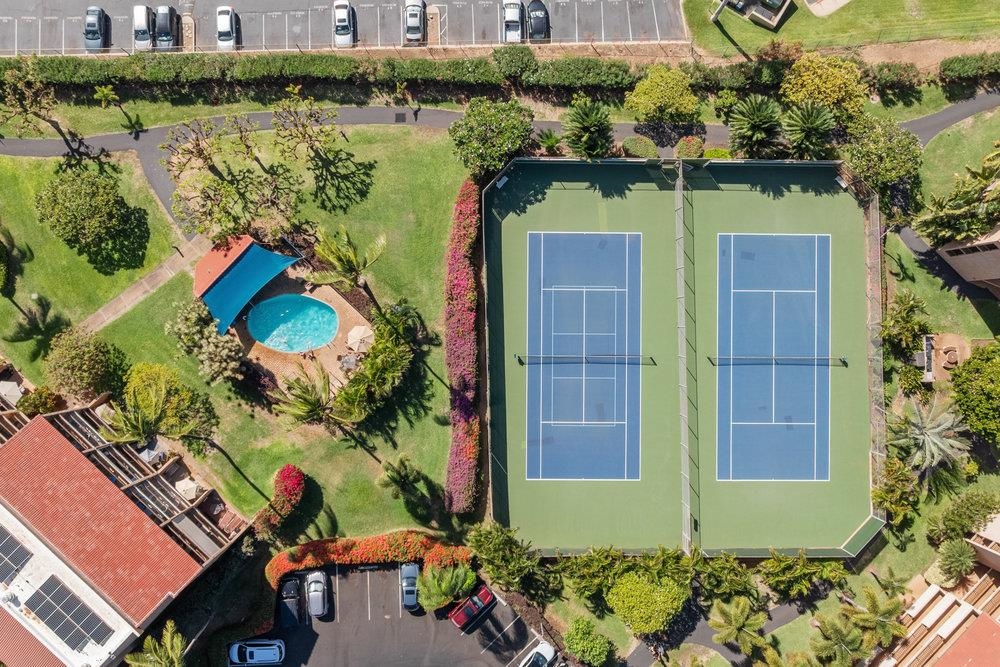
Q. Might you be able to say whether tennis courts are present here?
Yes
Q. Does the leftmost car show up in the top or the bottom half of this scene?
top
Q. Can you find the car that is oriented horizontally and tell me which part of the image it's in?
bottom left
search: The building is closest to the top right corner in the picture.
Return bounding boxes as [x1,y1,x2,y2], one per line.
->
[938,193,1000,300]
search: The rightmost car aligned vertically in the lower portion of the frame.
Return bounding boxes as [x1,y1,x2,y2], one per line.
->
[399,562,421,610]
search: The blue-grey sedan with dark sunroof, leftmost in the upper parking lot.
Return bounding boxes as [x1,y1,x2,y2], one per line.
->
[82,4,108,55]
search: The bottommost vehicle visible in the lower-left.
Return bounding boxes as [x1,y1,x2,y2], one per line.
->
[231,640,285,666]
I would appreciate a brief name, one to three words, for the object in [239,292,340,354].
swimming pool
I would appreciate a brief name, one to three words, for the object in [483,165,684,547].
tennis court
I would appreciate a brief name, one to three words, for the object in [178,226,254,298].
building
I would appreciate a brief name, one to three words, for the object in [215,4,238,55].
car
